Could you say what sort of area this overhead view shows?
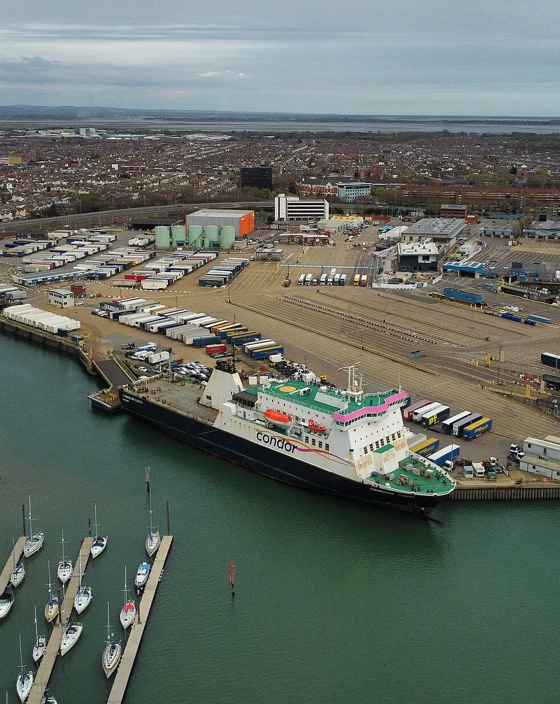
port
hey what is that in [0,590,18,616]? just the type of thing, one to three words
boat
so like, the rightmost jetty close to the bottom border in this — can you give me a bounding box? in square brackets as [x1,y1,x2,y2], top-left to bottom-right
[107,535,172,704]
